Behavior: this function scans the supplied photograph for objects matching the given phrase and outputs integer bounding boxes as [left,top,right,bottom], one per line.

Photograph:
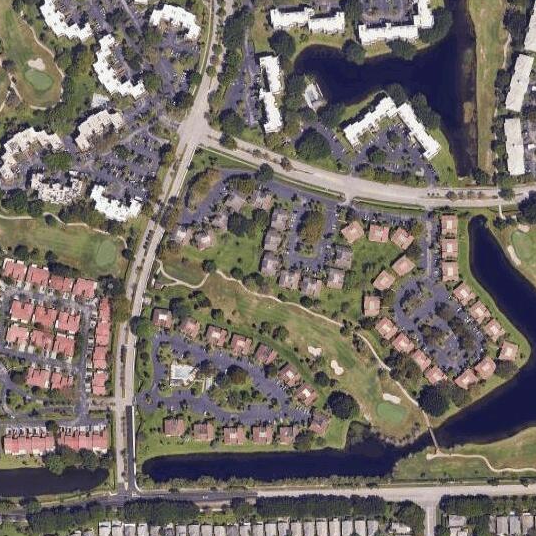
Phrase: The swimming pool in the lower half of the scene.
[171,362,198,385]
